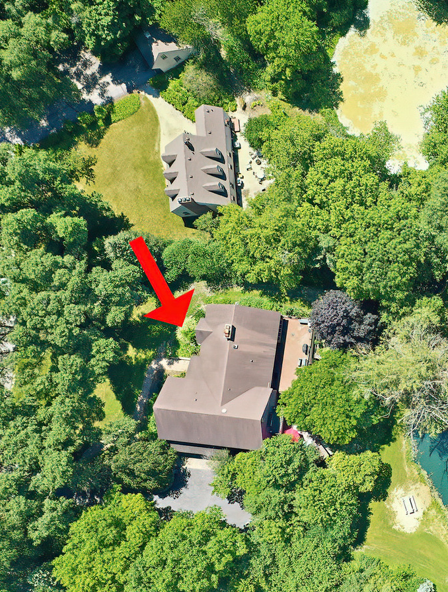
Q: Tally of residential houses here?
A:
2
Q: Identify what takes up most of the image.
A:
trees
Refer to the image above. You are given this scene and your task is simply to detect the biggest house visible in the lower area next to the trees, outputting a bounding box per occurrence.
[150,301,291,461]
